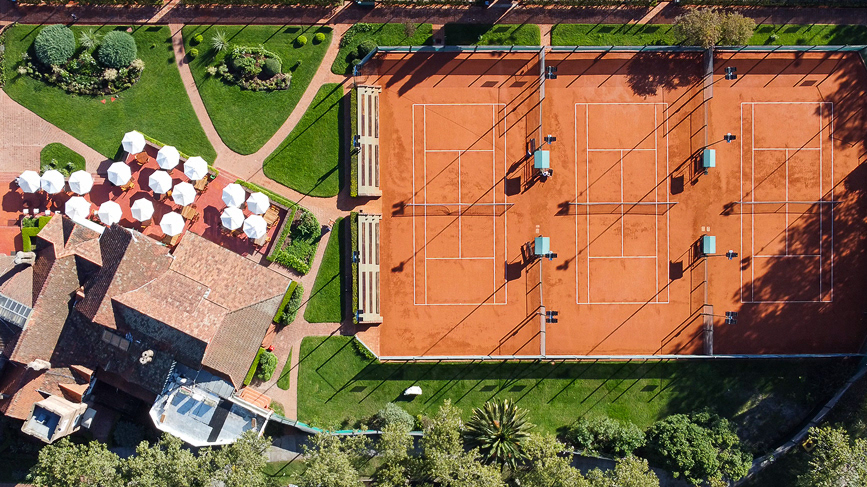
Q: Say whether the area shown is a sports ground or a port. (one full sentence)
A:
This image shows a sports ground.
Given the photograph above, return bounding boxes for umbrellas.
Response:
[242,215,266,239]
[130,196,156,221]
[171,181,196,206]
[160,212,184,235]
[157,145,180,169]
[184,156,207,180]
[221,182,246,207]
[107,162,131,186]
[16,169,41,193]
[246,191,270,215]
[69,170,92,195]
[148,169,173,194]
[41,169,65,193]
[219,206,244,230]
[121,130,146,154]
[64,196,89,220]
[97,201,123,225]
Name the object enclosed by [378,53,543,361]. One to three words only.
tennis court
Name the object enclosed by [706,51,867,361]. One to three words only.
tennis court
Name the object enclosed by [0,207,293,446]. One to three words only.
building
